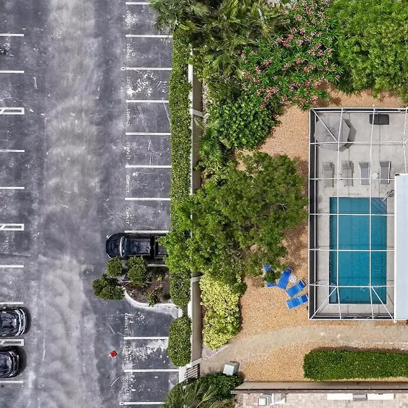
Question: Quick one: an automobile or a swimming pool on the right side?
swimming pool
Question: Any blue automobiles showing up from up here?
No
